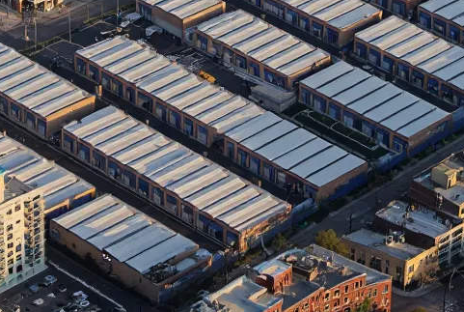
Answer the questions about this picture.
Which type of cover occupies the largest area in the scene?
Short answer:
buildings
